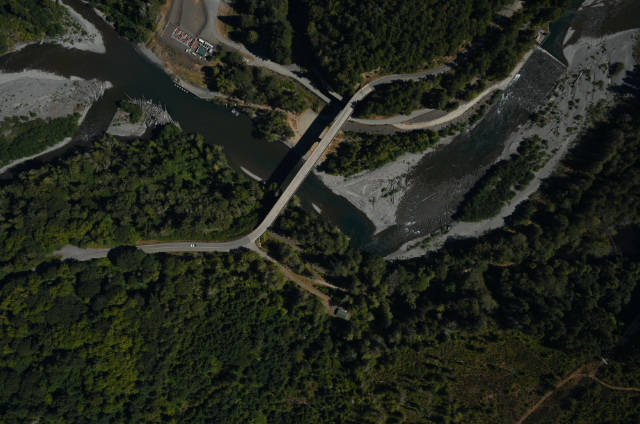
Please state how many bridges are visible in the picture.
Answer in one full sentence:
Altogether the scene contains 1 bridge.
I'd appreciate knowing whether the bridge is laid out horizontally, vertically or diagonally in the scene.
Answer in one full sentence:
From this overhead view, the bridge appears to run diagonally.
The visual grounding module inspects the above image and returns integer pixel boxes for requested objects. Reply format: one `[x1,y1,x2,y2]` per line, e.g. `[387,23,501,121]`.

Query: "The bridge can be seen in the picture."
[249,83,372,243]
